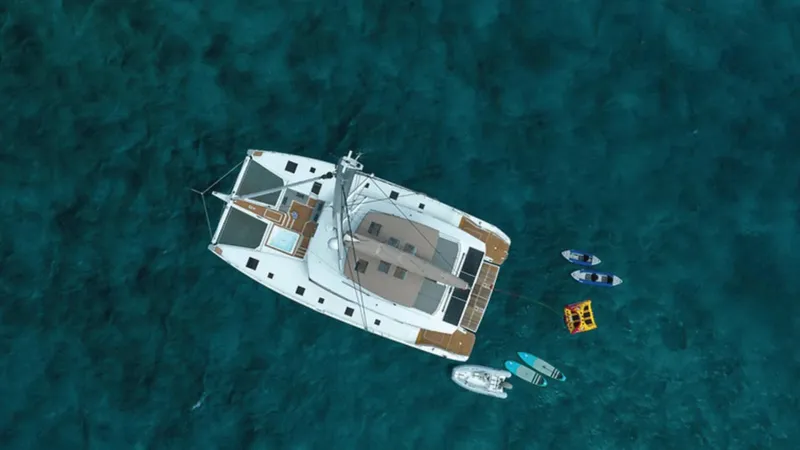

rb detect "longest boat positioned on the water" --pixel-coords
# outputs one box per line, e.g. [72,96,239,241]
[206,148,510,359]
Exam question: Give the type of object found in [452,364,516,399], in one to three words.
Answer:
boat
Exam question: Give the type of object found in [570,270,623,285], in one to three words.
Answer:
boat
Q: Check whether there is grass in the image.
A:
No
